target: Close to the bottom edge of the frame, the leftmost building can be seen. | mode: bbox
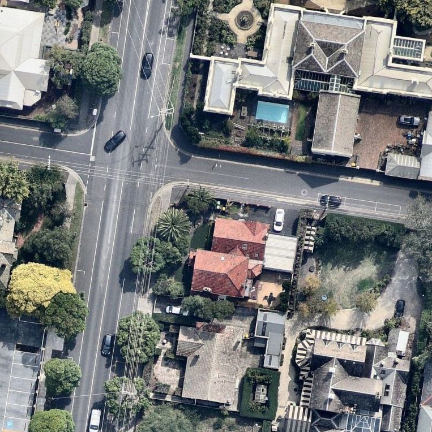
[175,324,248,412]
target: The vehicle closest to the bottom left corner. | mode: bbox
[87,409,101,432]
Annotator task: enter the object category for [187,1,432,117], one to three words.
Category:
house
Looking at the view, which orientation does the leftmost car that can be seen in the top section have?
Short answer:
diagonally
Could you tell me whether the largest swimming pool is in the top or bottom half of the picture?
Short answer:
top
